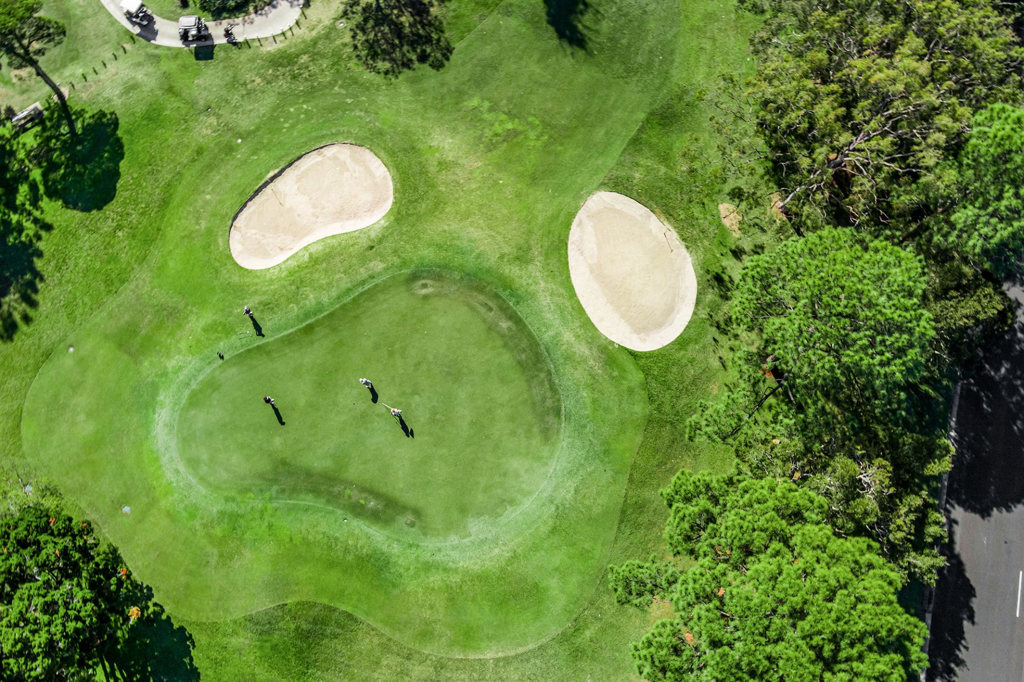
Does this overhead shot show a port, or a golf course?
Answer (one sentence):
This image shows a golf course.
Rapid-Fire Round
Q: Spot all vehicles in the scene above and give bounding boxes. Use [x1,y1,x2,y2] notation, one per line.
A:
[120,0,155,26]
[177,16,211,41]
